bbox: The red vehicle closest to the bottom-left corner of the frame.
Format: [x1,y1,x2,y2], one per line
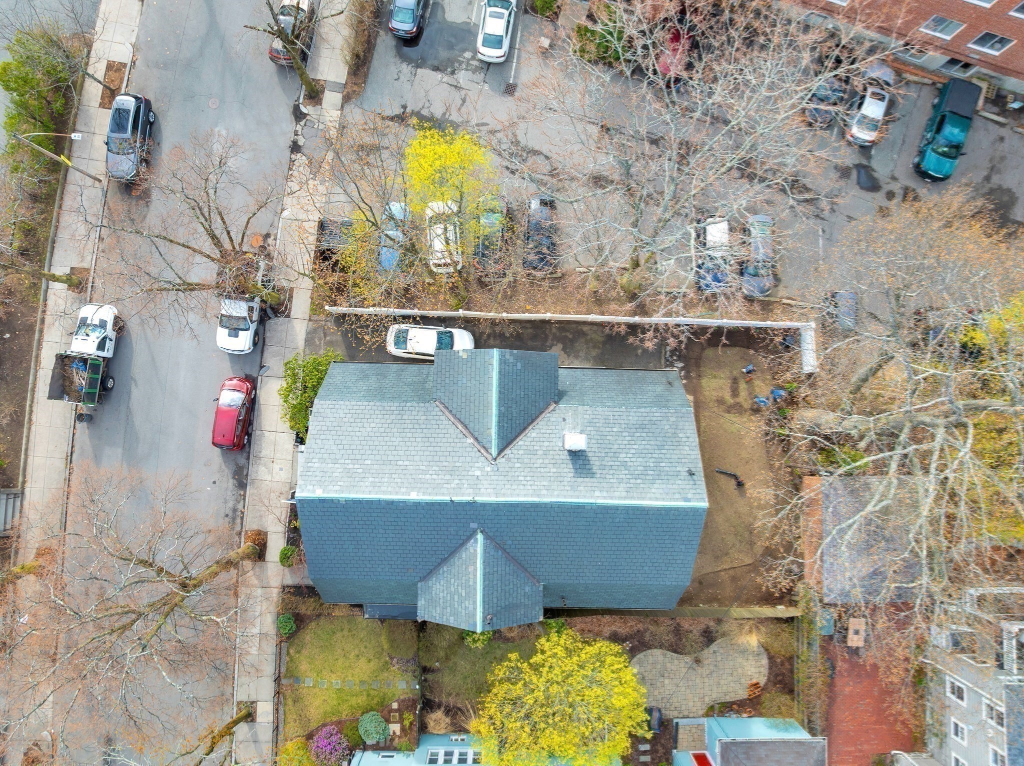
[211,376,256,452]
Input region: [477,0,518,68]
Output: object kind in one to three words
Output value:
car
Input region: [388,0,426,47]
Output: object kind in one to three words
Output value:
car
